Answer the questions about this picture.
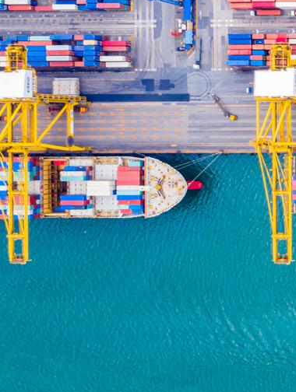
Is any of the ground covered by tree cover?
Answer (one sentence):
No, the scene doesn't show any tree cover.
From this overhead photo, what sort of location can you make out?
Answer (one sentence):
This image shows a port.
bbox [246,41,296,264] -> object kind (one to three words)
container crane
